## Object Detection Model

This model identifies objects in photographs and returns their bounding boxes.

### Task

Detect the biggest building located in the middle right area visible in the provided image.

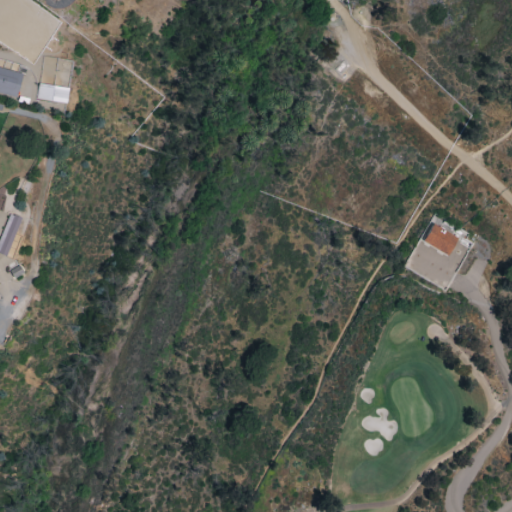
[426,224,459,255]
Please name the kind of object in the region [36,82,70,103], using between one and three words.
shed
